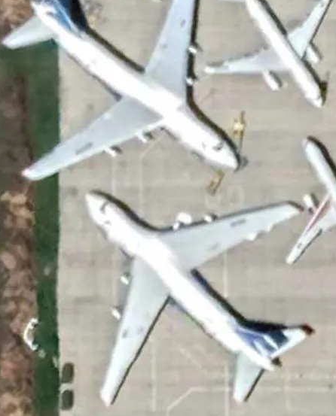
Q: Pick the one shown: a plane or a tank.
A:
plane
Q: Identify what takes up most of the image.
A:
paved ground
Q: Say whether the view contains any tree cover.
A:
No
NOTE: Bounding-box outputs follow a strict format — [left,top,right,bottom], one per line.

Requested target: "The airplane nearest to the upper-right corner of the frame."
[195,0,335,107]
